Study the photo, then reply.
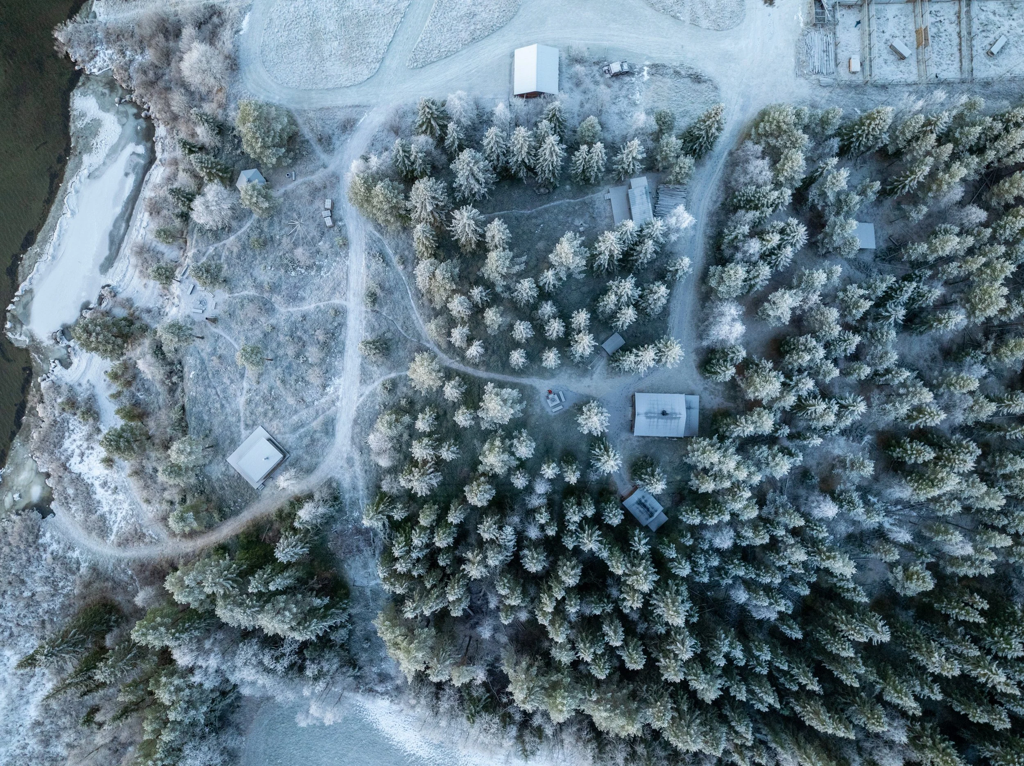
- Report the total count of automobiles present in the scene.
1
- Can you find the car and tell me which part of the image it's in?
top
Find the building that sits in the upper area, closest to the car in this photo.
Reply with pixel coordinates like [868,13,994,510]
[514,43,559,100]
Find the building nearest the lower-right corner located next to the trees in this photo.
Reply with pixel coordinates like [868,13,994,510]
[617,481,664,527]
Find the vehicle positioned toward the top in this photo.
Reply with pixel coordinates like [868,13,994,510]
[603,57,632,77]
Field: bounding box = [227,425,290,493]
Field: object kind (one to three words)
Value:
building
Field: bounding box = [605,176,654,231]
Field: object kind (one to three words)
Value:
building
